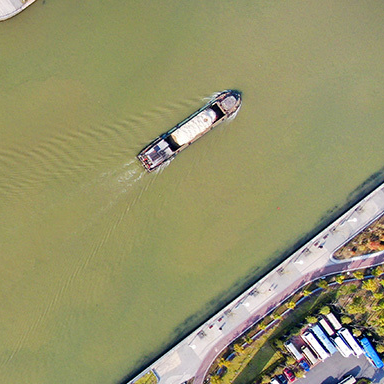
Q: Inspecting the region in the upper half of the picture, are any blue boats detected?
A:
No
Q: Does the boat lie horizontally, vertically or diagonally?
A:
diagonally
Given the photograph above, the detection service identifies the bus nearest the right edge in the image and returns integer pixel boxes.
[356,337,384,367]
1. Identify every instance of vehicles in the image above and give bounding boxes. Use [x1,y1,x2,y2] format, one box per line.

[356,337,384,367]
[299,345,317,366]
[282,341,303,361]
[323,312,342,330]
[306,324,335,354]
[315,317,333,337]
[330,336,351,359]
[334,327,362,359]
[284,368,293,380]
[277,373,287,384]
[299,359,309,372]
[298,331,330,360]
[331,374,354,384]
[270,379,279,384]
